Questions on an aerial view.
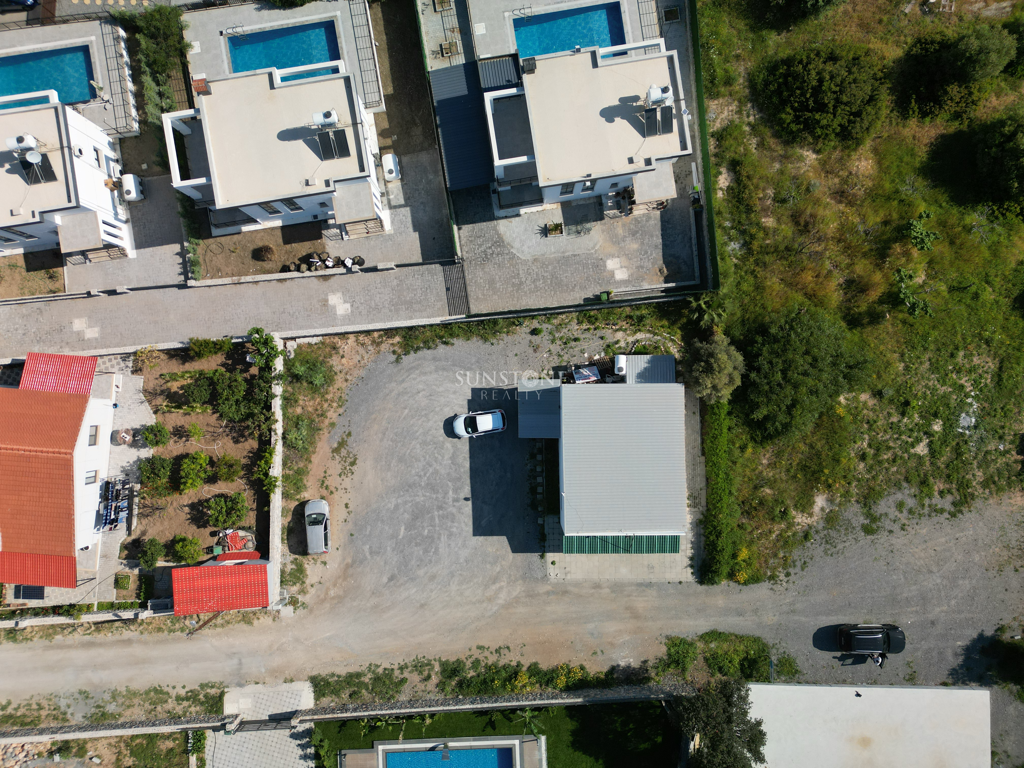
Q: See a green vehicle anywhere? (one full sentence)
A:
No, there isn't any green vehicle down there.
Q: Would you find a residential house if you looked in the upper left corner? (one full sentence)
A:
Yes, I can see a residential house in the upper left corner.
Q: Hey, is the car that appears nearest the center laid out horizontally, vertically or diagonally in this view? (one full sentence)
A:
From this overhead view, the car that appears nearest the center appears to run horizontally.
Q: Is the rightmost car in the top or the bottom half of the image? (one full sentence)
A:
You can find the rightmost car in the bottom half.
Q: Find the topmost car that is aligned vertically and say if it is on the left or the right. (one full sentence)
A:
It is on the left.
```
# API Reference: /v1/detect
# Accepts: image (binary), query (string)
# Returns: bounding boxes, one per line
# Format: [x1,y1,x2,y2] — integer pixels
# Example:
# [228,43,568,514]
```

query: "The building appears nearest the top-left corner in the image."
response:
[0,89,141,268]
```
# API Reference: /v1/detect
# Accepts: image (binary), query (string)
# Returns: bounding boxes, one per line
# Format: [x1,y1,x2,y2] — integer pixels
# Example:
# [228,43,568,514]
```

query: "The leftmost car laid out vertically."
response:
[304,499,332,555]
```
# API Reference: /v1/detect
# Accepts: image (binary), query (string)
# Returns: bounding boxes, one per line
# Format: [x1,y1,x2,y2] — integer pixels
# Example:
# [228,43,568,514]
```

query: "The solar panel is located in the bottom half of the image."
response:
[21,584,48,599]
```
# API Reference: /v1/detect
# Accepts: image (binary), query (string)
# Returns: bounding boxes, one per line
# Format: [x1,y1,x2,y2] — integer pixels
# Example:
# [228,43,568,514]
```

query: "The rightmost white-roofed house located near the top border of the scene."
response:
[482,37,692,222]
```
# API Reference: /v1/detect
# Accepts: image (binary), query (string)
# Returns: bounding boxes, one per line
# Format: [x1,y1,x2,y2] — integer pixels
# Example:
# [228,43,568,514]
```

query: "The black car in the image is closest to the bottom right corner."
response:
[835,624,904,670]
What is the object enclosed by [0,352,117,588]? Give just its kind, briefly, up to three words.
house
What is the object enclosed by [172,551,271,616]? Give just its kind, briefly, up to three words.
shed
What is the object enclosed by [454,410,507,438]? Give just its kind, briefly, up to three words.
car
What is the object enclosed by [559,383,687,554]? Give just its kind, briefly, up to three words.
building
